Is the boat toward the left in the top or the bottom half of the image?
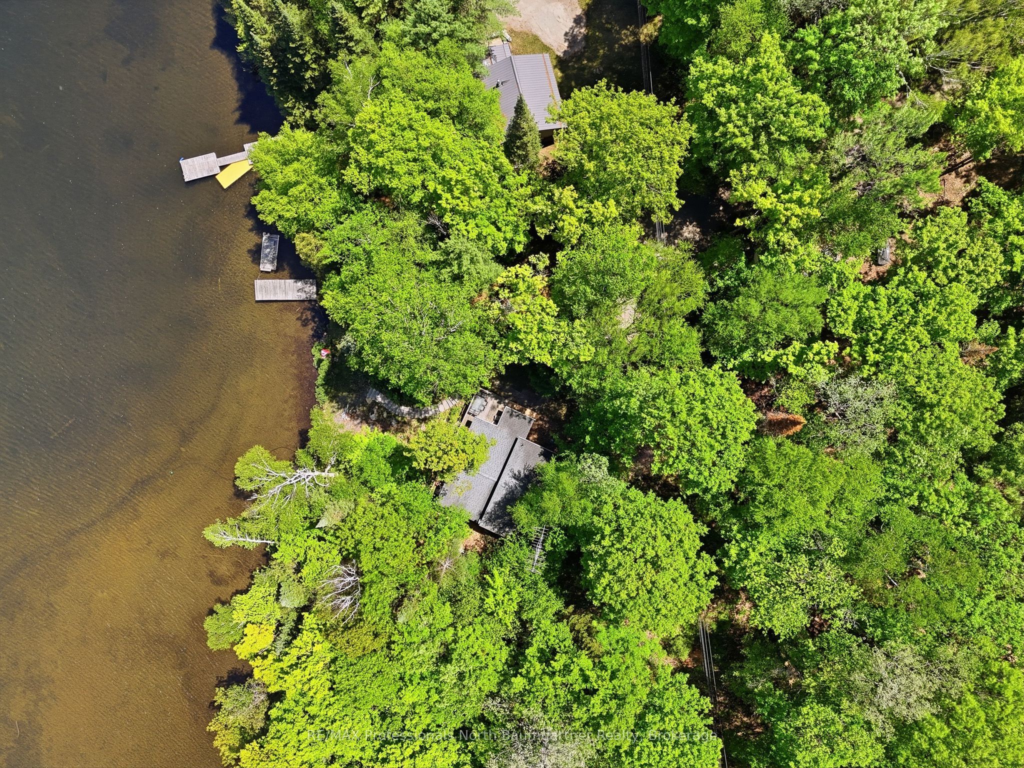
top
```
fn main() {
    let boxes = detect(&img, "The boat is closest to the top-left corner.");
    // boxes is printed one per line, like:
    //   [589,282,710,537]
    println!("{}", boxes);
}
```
[258,231,280,272]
